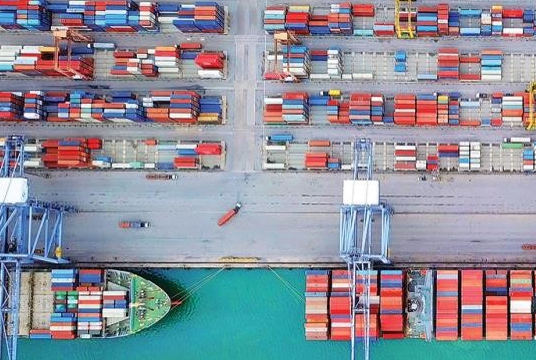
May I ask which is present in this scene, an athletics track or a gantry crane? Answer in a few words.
gantry crane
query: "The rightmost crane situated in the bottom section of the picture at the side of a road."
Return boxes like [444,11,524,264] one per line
[335,137,397,360]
